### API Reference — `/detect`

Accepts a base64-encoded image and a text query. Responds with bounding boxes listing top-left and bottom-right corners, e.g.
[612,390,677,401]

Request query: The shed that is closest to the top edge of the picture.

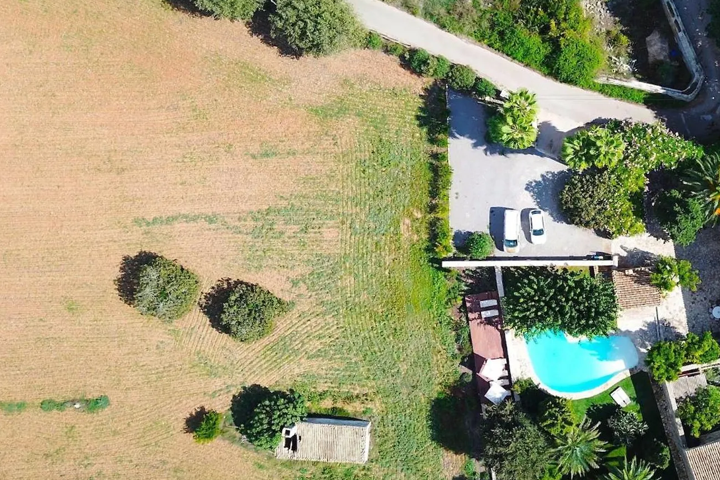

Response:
[612,269,662,309]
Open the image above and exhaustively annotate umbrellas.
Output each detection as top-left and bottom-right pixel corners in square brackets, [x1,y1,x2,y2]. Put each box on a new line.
[478,354,508,383]
[485,381,508,405]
